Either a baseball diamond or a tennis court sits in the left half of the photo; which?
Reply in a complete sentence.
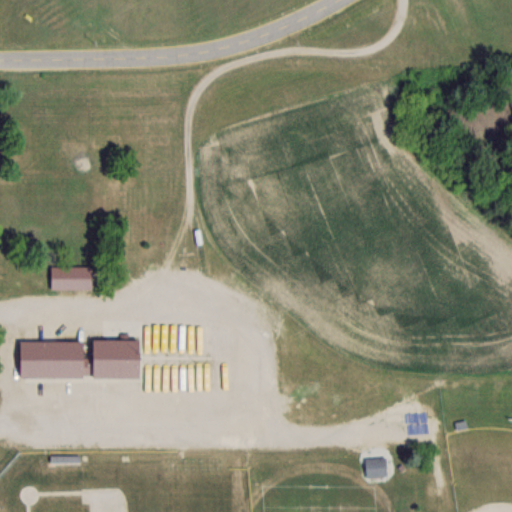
The one visible in the left half of the photo is a baseball diamond.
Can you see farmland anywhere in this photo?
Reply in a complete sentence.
Yes, some farmland is visible.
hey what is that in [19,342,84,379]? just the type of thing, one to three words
building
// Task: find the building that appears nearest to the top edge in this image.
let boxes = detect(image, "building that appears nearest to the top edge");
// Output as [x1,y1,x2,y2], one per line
[51,267,92,292]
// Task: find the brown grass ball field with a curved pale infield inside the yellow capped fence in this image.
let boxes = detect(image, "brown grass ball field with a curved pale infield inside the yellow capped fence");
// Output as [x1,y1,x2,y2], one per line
[446,428,512,512]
